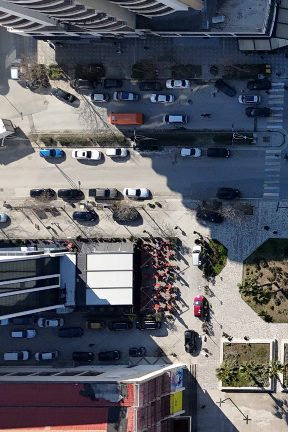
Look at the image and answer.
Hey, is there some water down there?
No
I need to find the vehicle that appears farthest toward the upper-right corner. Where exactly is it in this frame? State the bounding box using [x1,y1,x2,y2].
[247,77,272,91]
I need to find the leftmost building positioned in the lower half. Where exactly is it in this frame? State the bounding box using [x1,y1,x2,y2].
[0,242,84,322]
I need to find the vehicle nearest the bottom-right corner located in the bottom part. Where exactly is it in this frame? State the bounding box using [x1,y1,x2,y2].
[183,329,197,353]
